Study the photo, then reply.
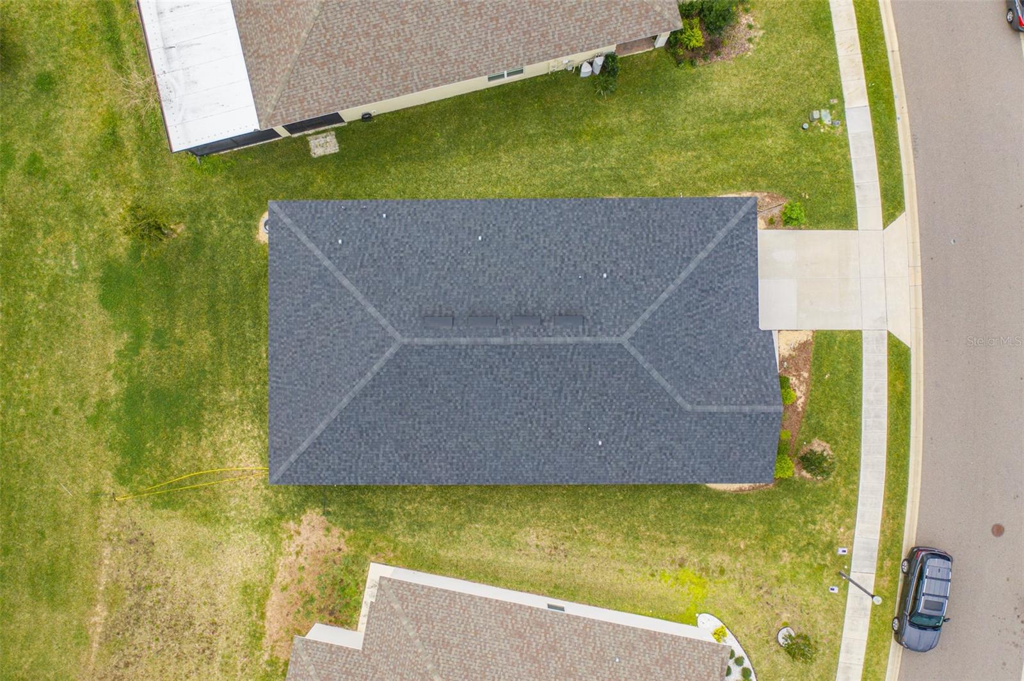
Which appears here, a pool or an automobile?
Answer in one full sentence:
This aerial view contains an automobile.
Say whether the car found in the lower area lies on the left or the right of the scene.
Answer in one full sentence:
The car found in the lower area is on the right side of the image.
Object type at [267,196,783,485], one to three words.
house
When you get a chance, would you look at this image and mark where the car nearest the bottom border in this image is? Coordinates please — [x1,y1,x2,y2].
[889,544,955,654]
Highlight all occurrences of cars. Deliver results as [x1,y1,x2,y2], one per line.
[1004,0,1024,38]
[889,544,955,654]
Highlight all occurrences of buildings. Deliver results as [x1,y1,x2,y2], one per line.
[267,196,783,485]
[285,565,730,681]
[133,0,683,168]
